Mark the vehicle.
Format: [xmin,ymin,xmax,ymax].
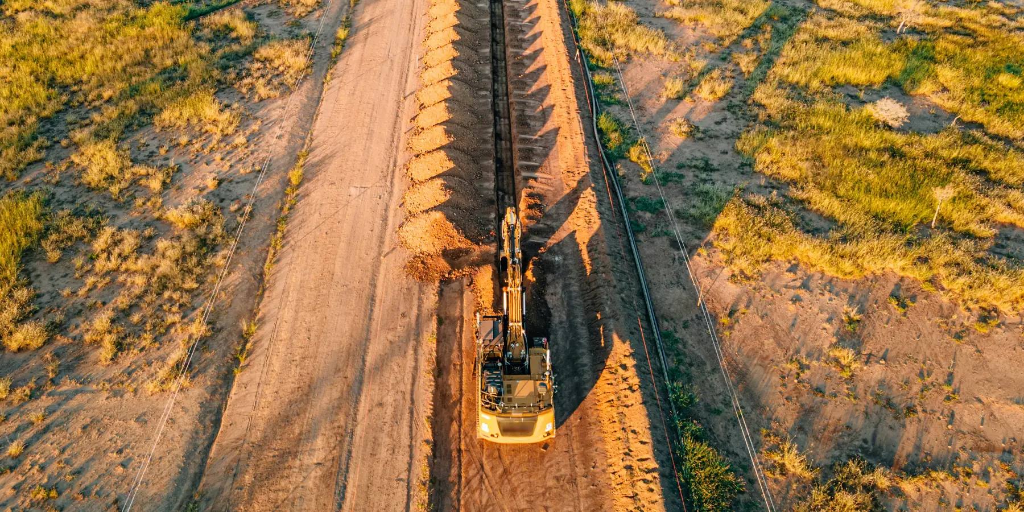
[473,204,561,445]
